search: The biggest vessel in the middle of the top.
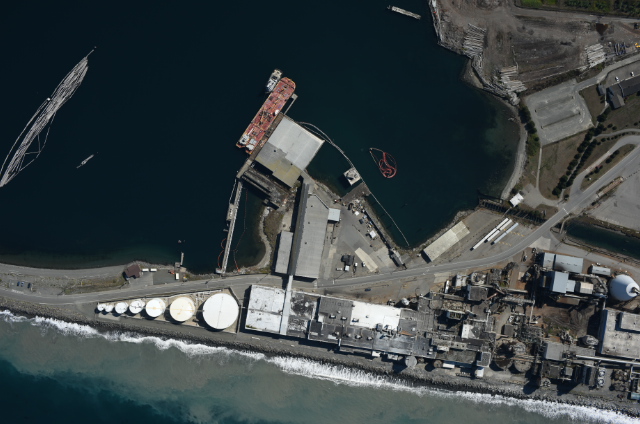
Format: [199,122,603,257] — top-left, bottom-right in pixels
[236,76,294,154]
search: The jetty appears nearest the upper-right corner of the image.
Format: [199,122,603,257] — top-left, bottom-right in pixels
[341,183,371,206]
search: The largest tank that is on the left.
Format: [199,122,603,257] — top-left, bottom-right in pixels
[202,291,240,330]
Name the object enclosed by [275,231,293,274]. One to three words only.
shed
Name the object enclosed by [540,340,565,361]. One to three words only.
building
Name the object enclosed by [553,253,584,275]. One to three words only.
building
